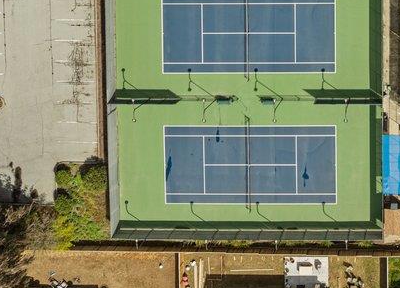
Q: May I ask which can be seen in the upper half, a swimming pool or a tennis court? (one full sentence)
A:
It is a tennis court that can be seen in the upper half.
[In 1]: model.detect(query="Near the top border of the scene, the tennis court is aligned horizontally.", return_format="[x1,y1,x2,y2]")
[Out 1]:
[116,0,381,99]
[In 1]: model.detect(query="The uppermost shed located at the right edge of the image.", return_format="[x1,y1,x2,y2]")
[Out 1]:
[383,208,400,236]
